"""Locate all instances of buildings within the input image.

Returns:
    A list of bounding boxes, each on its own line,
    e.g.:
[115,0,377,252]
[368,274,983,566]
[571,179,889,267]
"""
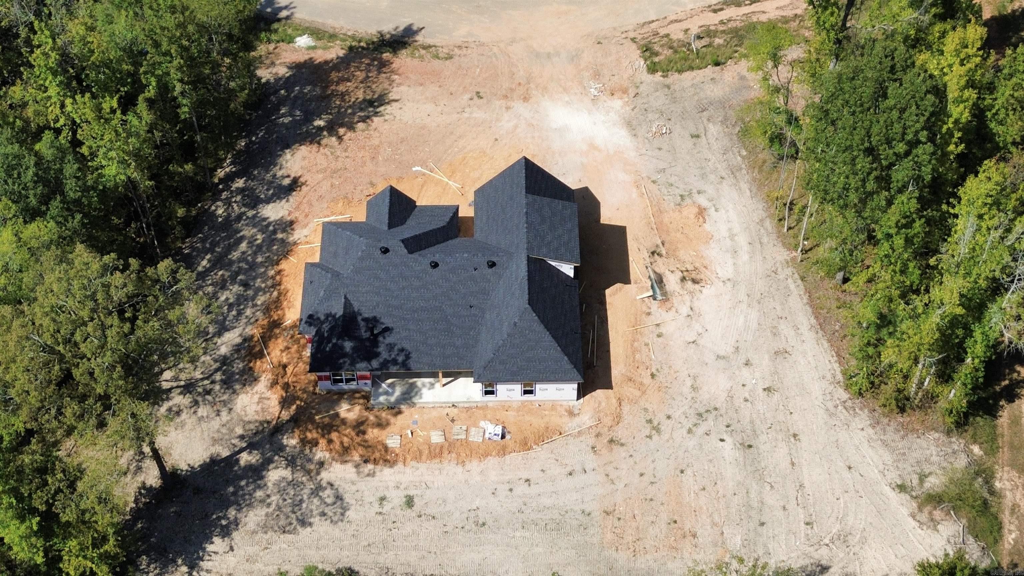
[297,155,585,406]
